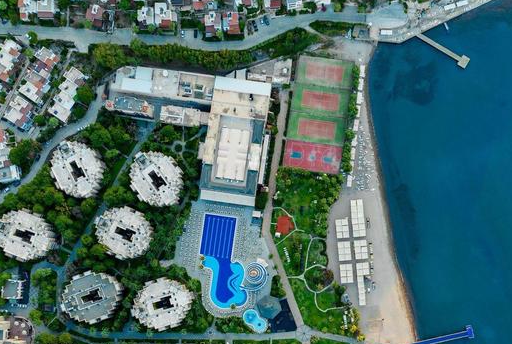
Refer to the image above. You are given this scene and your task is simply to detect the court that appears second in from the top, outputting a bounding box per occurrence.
[291,83,350,117]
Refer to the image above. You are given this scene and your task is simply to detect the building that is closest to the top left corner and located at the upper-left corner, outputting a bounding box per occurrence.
[17,0,40,23]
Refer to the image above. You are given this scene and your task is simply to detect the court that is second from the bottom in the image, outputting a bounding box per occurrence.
[286,110,349,145]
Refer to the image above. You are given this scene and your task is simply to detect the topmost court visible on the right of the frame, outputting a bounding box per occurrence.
[295,55,355,90]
